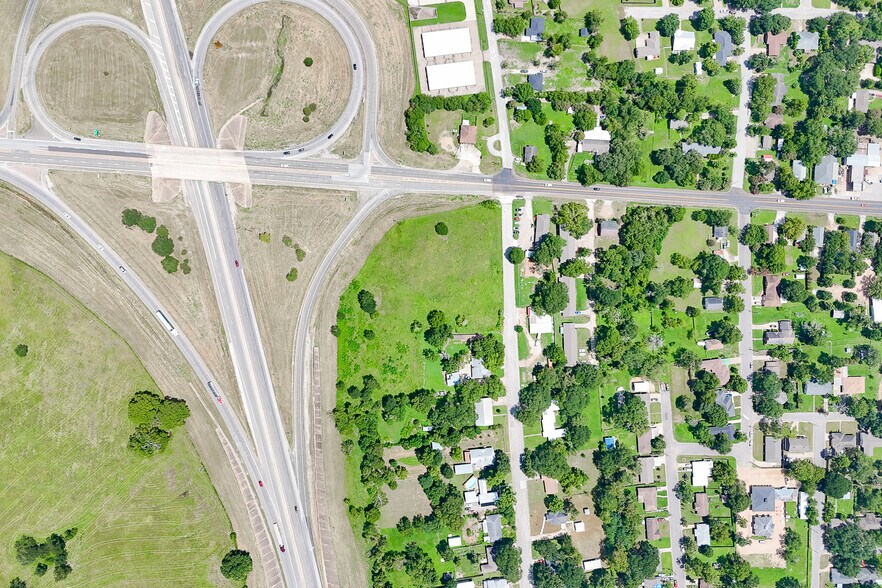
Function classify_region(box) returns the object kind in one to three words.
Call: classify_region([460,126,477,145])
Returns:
building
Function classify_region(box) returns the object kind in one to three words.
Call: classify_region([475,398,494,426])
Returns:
house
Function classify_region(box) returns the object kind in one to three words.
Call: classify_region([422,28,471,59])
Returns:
building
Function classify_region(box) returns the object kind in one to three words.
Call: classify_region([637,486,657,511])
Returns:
house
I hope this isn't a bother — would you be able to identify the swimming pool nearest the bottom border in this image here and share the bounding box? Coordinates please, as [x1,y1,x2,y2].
[458,471,482,494]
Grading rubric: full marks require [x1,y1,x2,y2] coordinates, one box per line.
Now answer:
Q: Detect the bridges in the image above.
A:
[145,144,250,183]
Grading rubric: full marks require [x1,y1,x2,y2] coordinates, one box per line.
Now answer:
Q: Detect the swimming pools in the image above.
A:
[458,471,482,494]
[606,438,616,449]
